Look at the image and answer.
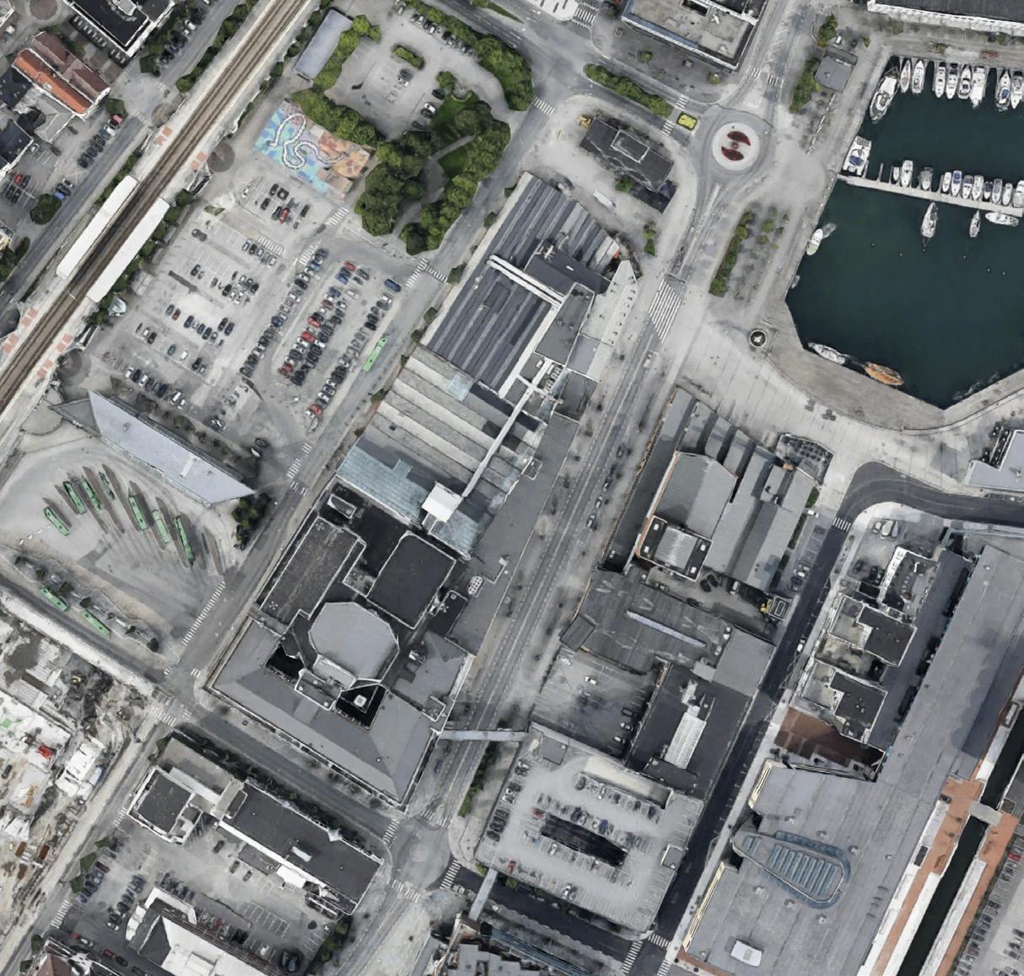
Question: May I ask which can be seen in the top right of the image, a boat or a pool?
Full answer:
Visible in the top right of the image is a boat.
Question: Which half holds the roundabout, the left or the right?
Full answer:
It is on the right.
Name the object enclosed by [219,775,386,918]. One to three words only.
building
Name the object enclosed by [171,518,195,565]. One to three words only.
bus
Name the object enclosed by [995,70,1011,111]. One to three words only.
boat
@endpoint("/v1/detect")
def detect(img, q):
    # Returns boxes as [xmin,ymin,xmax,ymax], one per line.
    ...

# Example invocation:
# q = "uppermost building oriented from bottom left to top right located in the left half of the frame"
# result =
[294,8,353,81]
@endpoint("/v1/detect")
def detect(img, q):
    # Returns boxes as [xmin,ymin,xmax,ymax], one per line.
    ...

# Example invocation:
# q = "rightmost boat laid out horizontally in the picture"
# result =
[984,210,1017,226]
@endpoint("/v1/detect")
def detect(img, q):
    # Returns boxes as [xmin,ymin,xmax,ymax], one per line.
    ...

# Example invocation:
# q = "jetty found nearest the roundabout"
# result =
[839,163,1024,217]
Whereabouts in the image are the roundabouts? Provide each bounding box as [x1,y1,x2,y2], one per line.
[696,106,775,186]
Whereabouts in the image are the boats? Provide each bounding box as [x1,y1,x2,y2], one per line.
[822,225,834,239]
[920,202,942,239]
[1002,183,1012,206]
[893,167,899,181]
[935,62,946,97]
[809,343,847,365]
[971,65,986,108]
[962,175,973,199]
[946,63,959,99]
[900,160,913,187]
[899,59,913,93]
[843,139,872,178]
[983,181,992,199]
[995,70,1011,111]
[910,60,924,95]
[1012,180,1024,208]
[984,210,1017,226]
[805,229,822,256]
[969,211,986,238]
[873,68,903,122]
[921,167,932,190]
[951,170,962,196]
[942,172,951,192]
[957,66,972,100]
[790,276,799,289]
[991,179,1002,204]
[972,175,984,200]
[1010,70,1024,109]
